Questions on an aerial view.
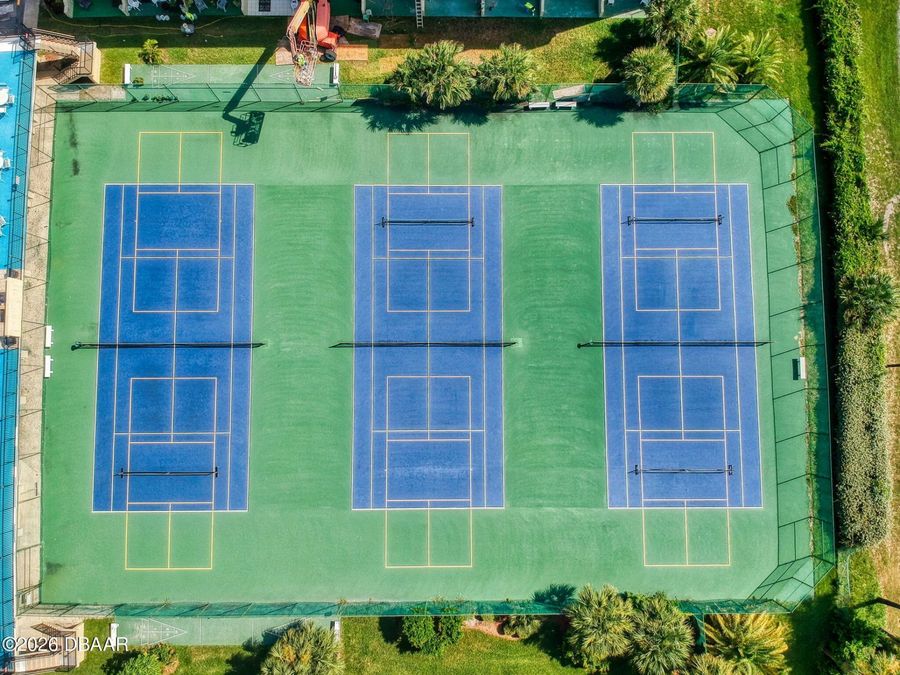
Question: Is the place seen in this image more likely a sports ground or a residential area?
sports ground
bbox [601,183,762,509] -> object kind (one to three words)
tennis court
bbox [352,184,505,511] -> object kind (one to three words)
tennis court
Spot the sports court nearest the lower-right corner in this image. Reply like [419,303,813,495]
[639,376,730,566]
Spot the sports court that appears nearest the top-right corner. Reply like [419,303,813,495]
[632,132,721,310]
